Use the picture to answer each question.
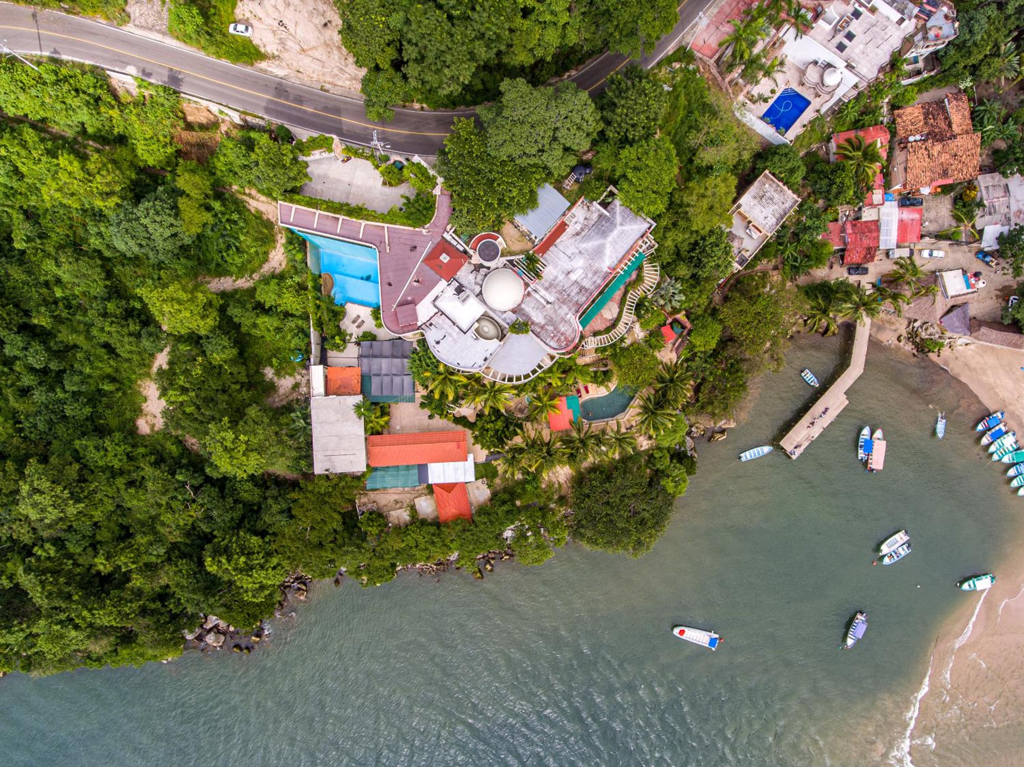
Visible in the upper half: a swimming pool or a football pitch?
swimming pool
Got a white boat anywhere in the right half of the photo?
Yes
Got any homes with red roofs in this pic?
Yes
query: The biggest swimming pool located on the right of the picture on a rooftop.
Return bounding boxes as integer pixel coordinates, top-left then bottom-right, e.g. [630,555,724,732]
[761,87,813,136]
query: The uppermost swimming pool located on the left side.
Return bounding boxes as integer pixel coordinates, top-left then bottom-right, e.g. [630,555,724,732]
[285,227,416,345]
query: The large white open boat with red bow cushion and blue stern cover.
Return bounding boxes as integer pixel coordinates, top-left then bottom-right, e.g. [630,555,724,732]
[673,628,719,650]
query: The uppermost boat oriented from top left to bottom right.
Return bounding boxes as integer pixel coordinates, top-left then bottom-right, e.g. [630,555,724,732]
[800,368,820,387]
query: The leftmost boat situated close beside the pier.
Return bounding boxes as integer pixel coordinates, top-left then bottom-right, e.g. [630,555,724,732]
[737,447,774,463]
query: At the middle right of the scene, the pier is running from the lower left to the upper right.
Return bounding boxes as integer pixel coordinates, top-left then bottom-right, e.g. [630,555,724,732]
[778,316,871,459]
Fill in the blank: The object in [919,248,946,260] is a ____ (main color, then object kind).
white vehicle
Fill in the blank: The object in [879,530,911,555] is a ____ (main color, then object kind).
white boat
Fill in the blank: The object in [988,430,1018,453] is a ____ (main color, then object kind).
white boat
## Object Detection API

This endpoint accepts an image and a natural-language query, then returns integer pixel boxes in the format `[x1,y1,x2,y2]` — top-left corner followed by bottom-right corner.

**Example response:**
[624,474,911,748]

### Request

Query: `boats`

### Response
[866,427,888,473]
[737,447,774,463]
[979,423,1009,445]
[800,368,820,387]
[879,530,911,555]
[1000,450,1024,464]
[857,426,874,462]
[1009,474,1024,488]
[960,574,997,591]
[673,628,719,650]
[882,544,913,564]
[988,430,1018,453]
[991,440,1021,461]
[1005,463,1024,477]
[846,611,868,649]
[975,409,1006,431]
[936,414,946,439]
